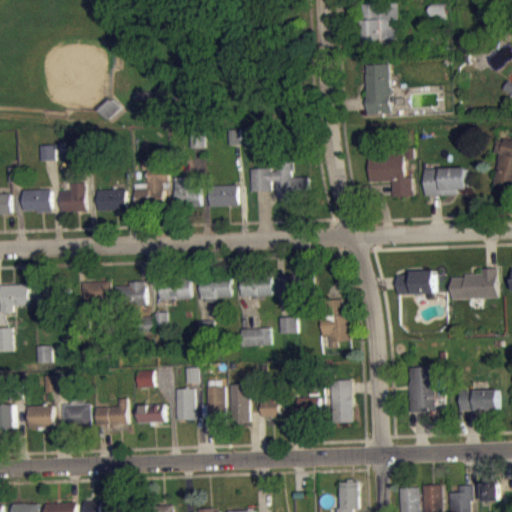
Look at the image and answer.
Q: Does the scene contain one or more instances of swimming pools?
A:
Yes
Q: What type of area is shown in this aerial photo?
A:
residential area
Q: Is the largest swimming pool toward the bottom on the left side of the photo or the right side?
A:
right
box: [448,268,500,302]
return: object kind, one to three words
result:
house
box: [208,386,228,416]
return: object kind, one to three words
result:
house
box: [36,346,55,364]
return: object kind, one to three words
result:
shed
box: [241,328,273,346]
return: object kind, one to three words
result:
building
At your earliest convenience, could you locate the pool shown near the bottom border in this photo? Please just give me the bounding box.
[320,494,340,509]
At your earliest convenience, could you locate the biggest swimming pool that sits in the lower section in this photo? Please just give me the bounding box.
[414,293,448,324]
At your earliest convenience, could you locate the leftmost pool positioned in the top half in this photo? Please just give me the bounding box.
[390,86,444,116]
